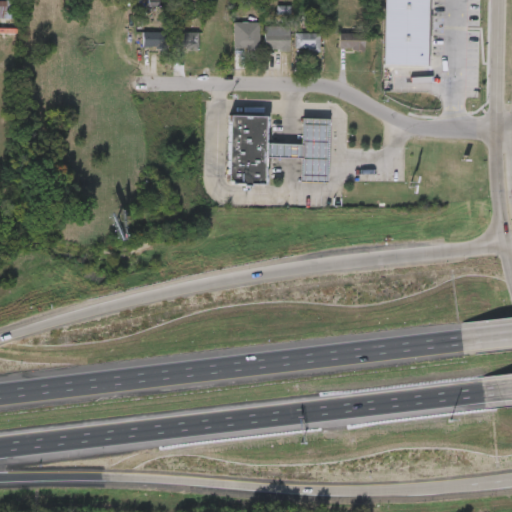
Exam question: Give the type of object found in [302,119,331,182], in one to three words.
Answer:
building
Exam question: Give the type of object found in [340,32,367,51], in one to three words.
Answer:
house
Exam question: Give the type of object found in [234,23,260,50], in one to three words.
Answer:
house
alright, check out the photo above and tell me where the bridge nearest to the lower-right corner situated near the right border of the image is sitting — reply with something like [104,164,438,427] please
[484,374,512,410]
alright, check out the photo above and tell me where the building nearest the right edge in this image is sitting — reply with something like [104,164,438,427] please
[384,0,431,70]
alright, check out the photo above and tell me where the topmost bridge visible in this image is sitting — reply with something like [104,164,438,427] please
[463,316,512,354]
